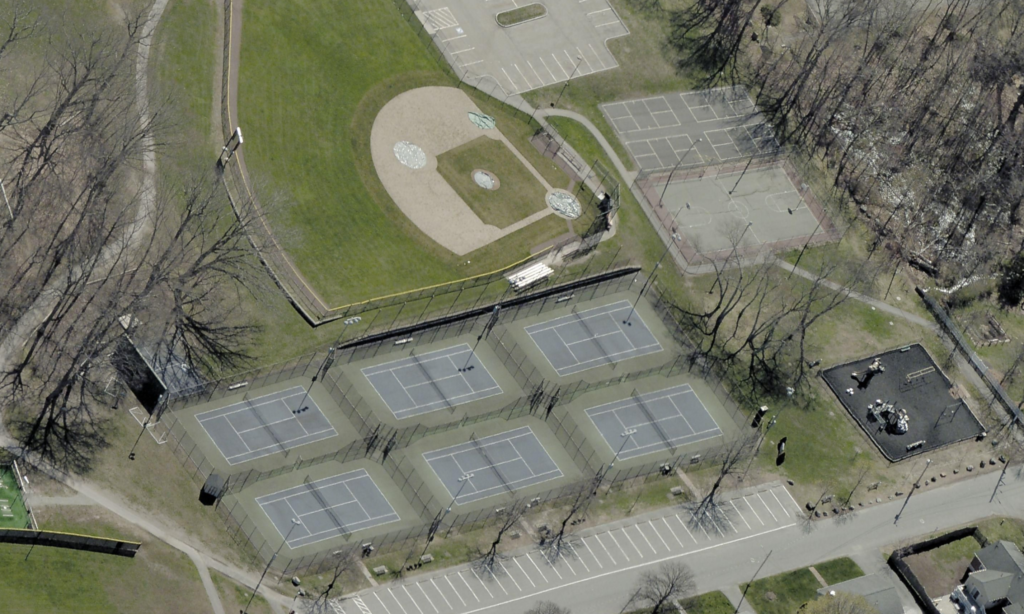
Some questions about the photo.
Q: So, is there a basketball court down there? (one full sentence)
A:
Yes, there is a basketball court in the image.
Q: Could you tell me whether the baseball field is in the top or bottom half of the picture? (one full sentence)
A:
The baseball field is in the top half of the image.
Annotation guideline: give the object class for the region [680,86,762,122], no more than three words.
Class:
tennis court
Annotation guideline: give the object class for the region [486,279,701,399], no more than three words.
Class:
tennis court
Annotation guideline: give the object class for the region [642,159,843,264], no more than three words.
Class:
basketball court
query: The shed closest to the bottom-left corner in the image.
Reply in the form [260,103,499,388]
[201,478,229,503]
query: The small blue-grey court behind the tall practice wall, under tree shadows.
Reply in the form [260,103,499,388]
[136,336,203,398]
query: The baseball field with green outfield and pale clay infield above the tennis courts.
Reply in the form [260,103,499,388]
[225,0,605,313]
